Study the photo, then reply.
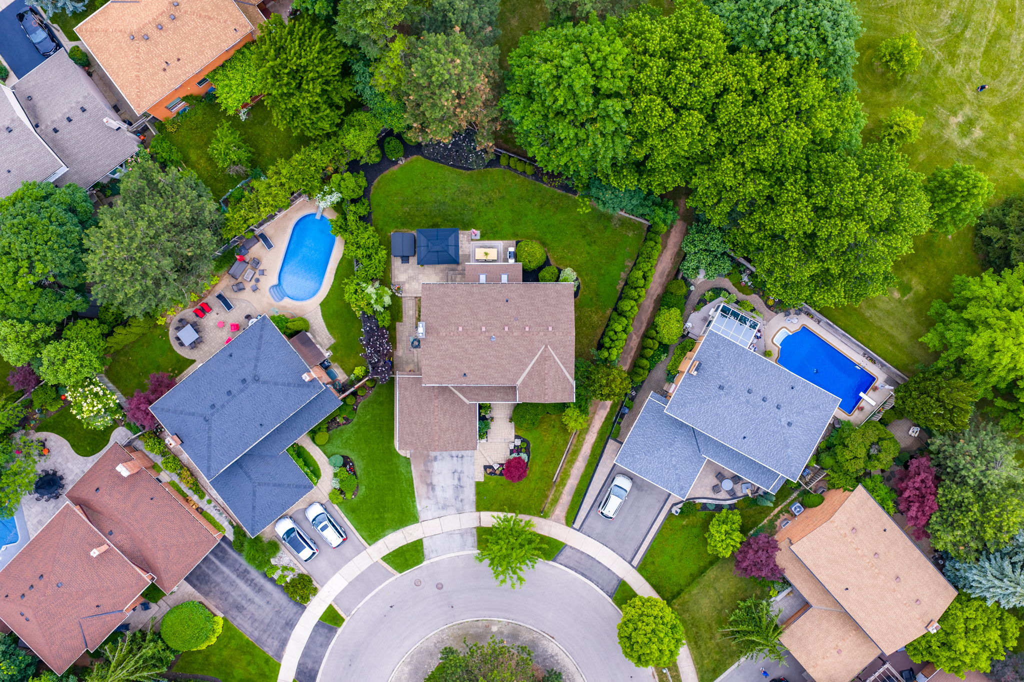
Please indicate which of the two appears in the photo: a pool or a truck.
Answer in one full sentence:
This aerial view contains a pool.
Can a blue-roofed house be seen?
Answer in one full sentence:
Yes, looking at the shot, I can spot a blue-roofed house.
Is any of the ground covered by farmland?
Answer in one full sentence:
No, the scene doesn't show any farmland.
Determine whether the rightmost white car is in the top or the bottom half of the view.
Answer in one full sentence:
The bottom half of the photo is where the rightmost white car is.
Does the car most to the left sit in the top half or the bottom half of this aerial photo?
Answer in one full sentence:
You can find the car most to the left in the top half.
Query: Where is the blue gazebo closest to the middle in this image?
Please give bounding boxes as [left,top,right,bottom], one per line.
[416,229,460,267]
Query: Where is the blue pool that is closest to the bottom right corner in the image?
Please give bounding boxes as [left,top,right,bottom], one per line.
[772,324,879,416]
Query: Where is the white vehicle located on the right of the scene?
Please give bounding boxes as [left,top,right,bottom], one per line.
[598,472,631,523]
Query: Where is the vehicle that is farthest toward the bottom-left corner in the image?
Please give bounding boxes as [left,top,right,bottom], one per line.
[276,516,319,564]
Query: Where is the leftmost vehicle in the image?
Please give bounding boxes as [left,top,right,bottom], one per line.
[14,5,59,56]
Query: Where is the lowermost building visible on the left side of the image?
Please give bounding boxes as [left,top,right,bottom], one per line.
[0,442,228,677]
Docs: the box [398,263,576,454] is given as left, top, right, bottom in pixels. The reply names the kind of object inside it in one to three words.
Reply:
house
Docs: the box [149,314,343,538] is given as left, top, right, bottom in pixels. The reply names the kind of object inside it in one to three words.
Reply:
house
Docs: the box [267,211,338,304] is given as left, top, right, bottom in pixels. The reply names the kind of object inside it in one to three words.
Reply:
swimming pool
